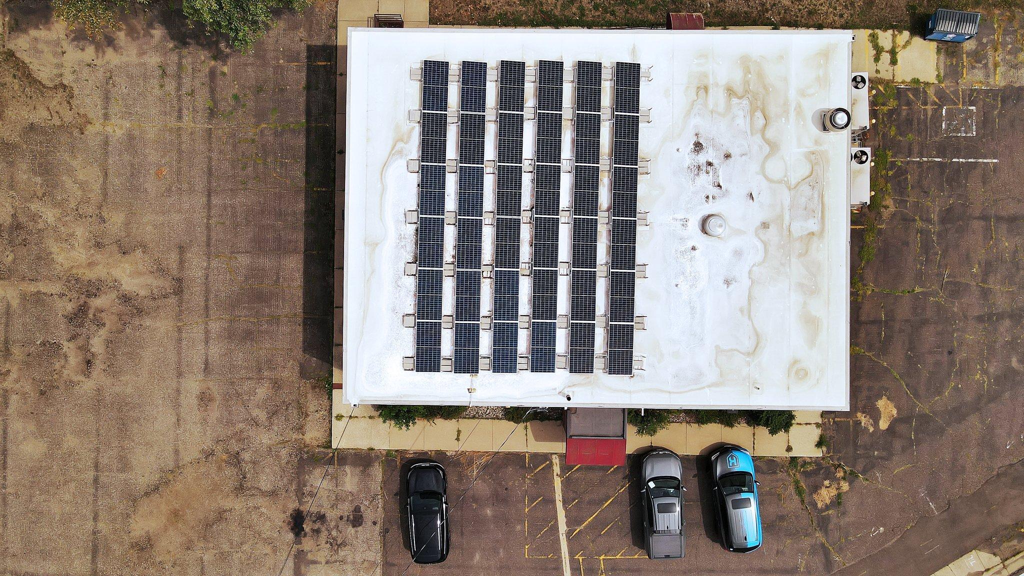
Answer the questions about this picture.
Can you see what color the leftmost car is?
black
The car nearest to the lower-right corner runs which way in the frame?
from top to bottom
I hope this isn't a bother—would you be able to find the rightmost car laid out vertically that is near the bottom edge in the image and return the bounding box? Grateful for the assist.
[707,443,762,554]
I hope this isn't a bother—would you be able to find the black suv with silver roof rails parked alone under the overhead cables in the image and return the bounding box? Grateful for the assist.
[401,461,453,565]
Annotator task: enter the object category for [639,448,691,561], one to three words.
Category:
vehicle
